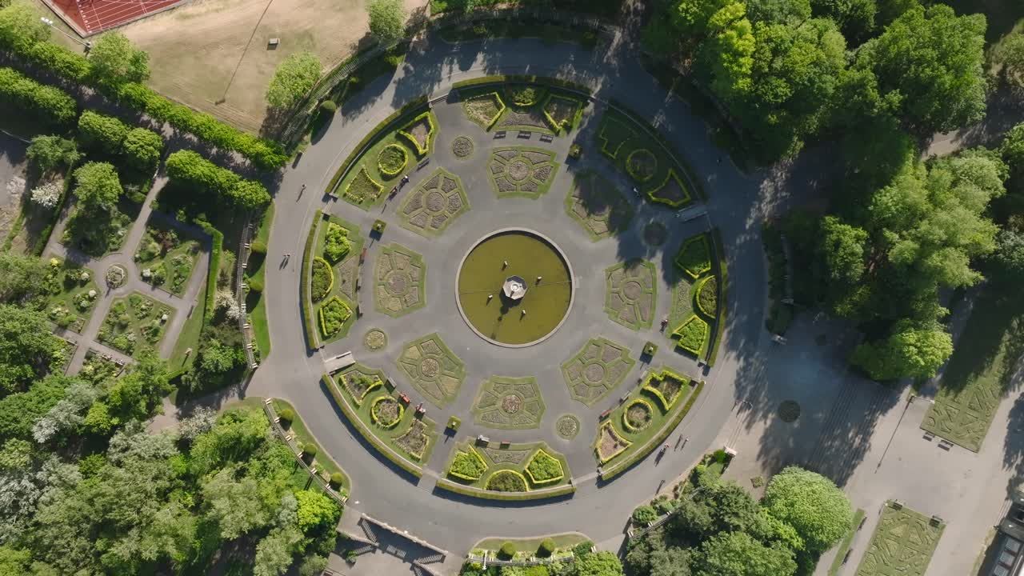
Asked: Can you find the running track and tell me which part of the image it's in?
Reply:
top left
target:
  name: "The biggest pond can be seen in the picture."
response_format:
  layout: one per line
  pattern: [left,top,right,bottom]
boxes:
[456,229,573,346]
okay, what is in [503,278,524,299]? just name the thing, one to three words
fountain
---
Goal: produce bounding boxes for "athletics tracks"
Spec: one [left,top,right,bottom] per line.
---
[45,0,193,40]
